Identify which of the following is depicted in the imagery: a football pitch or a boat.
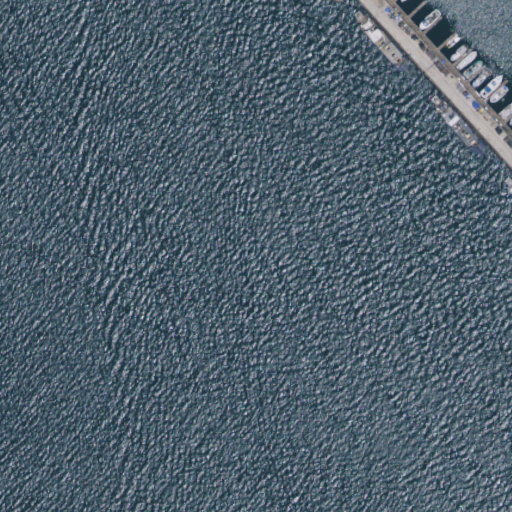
boat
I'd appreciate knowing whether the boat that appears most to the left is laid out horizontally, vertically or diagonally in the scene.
diagonally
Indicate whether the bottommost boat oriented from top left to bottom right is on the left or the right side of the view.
right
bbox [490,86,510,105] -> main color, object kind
white boat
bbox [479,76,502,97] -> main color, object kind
white boat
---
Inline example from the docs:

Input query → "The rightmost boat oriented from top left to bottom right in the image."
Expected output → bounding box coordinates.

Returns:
[432,96,480,148]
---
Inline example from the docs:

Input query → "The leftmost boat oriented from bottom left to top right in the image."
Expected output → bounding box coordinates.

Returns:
[419,8,440,28]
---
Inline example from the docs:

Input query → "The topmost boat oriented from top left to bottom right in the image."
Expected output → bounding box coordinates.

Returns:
[356,12,404,65]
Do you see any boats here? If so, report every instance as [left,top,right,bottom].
[449,44,468,60]
[456,48,480,69]
[472,68,492,88]
[446,34,462,50]
[432,96,480,148]
[498,98,512,116]
[479,76,502,97]
[490,86,510,105]
[419,8,440,28]
[356,12,404,65]
[465,58,484,76]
